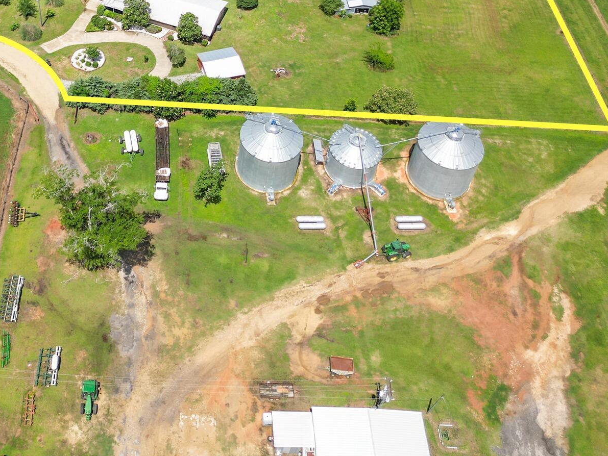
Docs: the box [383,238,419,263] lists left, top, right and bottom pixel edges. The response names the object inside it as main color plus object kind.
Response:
green work vehicle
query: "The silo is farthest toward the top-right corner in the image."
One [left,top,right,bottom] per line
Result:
[403,117,488,204]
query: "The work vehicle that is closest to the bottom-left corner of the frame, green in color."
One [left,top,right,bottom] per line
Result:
[79,382,101,423]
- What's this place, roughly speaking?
industrial area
